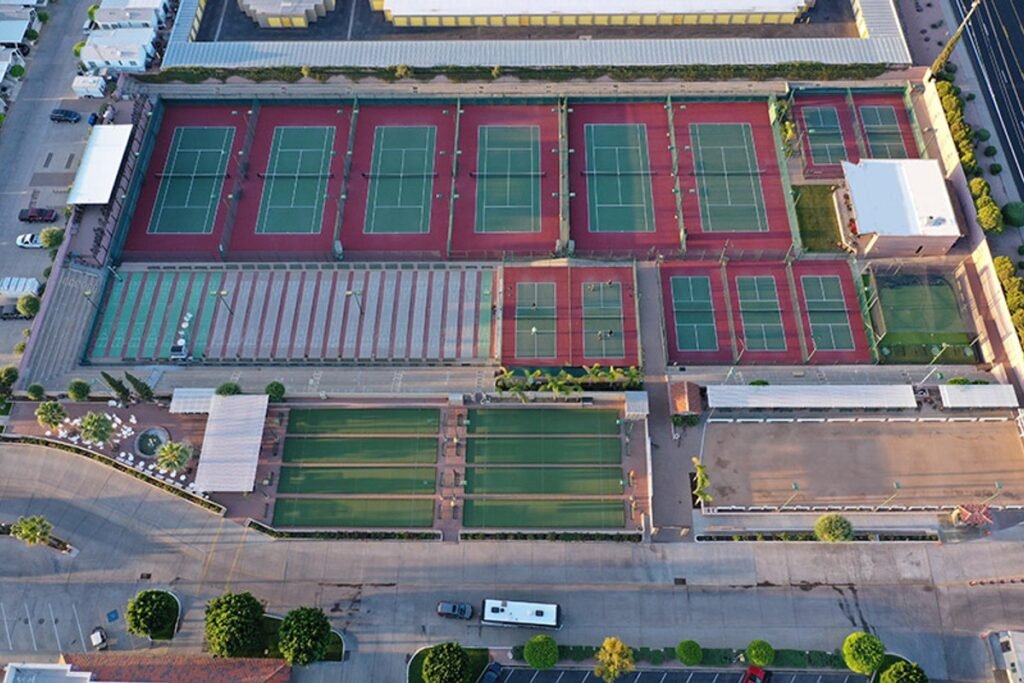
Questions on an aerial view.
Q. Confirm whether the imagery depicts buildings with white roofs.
Yes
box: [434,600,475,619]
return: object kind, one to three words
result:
vehicle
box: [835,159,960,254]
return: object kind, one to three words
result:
building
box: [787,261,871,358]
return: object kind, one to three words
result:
sports court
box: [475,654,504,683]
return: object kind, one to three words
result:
car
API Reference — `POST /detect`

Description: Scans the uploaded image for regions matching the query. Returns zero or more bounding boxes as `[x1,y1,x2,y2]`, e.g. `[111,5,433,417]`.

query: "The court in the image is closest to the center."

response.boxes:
[502,267,571,365]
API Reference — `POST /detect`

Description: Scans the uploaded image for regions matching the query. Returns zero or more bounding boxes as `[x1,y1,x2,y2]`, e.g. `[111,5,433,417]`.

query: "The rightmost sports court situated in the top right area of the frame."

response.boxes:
[847,93,927,160]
